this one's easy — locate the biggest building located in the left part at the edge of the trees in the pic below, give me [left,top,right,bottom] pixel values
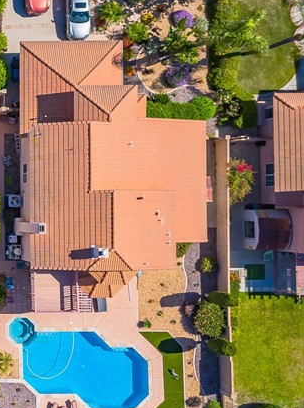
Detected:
[10,39,209,299]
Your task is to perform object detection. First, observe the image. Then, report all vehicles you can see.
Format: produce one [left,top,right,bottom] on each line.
[20,0,48,18]
[61,0,93,41]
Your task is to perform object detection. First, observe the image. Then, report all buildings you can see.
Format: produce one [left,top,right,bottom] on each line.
[10,39,209,299]
[259,92,304,256]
